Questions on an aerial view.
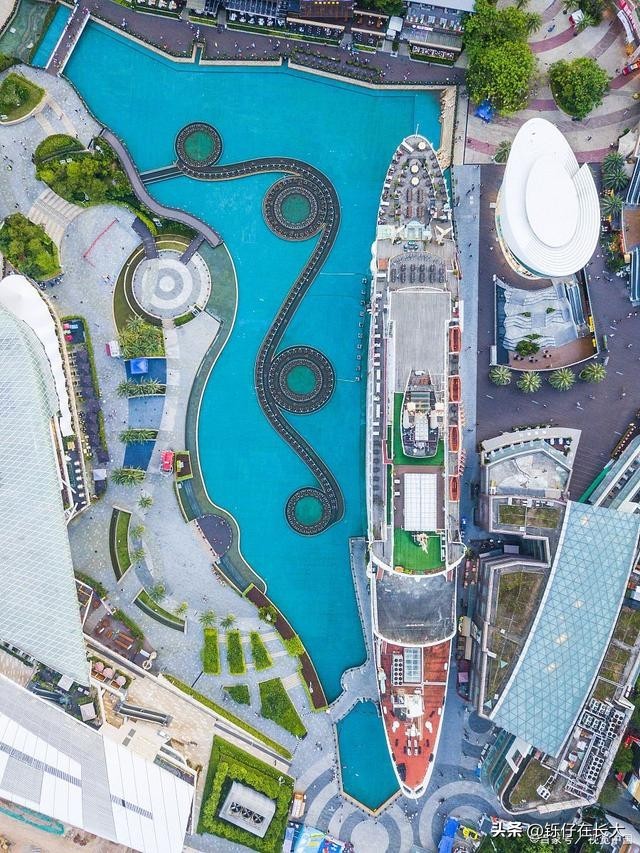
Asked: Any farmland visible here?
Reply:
No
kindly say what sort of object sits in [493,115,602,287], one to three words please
building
